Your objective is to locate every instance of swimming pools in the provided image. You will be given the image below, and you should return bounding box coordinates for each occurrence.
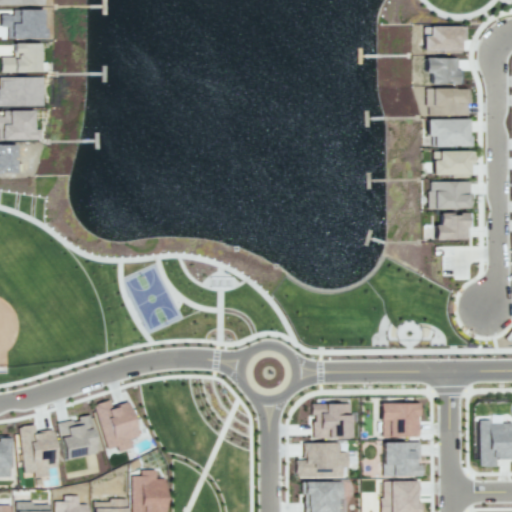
[136,439,152,454]
[48,470,60,487]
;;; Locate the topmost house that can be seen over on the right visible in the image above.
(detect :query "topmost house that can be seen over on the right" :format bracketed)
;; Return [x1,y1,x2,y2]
[426,26,470,54]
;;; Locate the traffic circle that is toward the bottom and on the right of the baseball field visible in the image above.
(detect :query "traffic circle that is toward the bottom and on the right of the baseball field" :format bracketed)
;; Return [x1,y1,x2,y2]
[236,340,302,405]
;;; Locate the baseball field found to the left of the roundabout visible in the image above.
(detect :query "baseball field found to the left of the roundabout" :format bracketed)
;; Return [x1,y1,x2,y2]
[0,214,106,381]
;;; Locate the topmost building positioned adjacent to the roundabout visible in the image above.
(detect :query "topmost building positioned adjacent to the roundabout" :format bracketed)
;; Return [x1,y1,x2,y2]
[313,404,356,440]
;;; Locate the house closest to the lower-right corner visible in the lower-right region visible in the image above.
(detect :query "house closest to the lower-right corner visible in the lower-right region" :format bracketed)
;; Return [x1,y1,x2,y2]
[481,421,512,468]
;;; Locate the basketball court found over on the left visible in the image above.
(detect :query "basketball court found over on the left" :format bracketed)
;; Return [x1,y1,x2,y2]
[124,264,181,334]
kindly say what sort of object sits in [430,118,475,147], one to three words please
house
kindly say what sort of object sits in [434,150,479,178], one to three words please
house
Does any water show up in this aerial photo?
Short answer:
Yes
